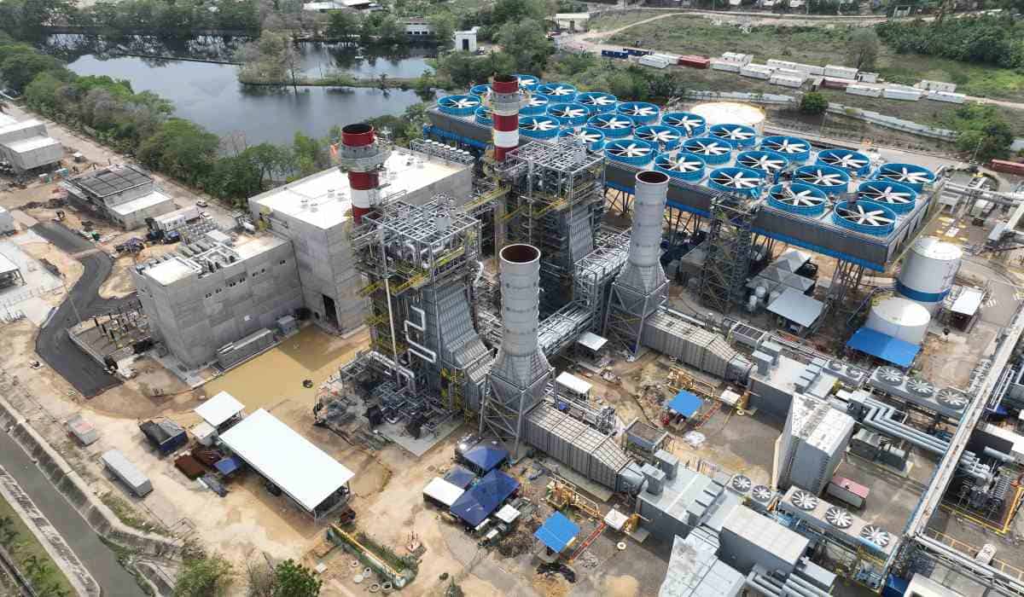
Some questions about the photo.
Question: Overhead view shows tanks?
Yes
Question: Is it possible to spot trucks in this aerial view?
Yes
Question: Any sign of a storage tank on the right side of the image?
Yes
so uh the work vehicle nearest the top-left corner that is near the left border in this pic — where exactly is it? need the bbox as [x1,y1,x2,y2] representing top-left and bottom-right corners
[49,203,68,223]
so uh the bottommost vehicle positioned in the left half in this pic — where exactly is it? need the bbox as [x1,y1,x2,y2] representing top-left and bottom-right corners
[330,501,363,528]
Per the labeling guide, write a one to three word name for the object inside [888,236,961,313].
storage tank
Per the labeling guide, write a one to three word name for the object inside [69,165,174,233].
building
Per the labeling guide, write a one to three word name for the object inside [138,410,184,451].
truck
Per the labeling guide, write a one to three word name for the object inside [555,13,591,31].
barn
